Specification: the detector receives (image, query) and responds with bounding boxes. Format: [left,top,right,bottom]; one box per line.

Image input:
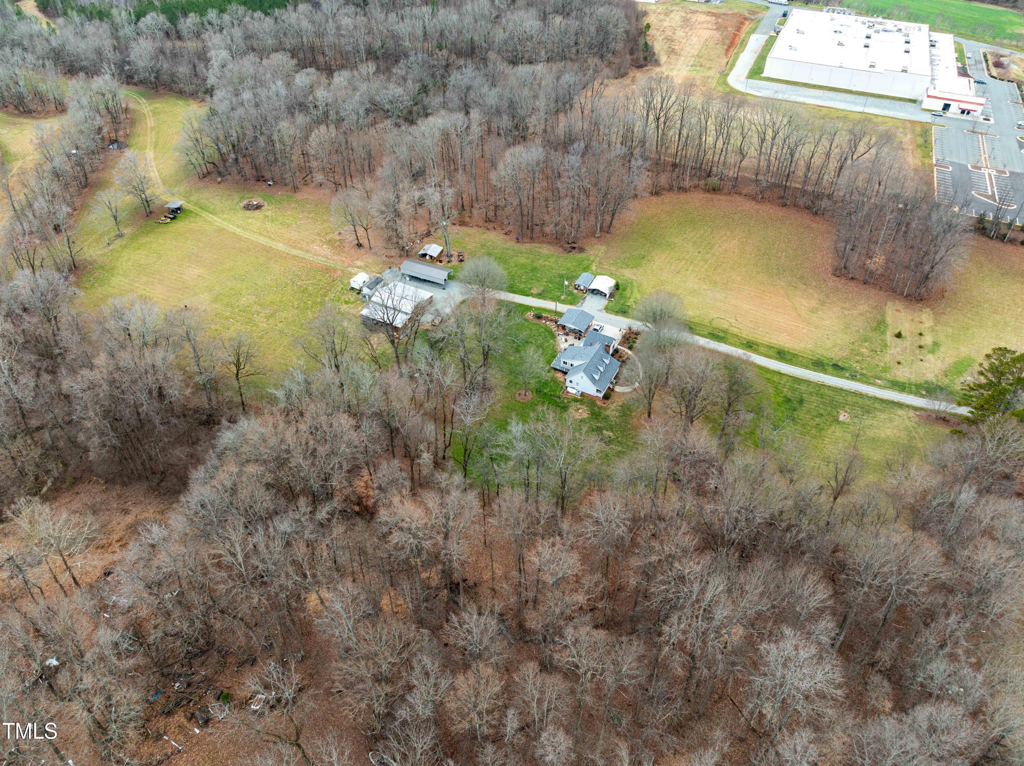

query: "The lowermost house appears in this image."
[551,329,622,400]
